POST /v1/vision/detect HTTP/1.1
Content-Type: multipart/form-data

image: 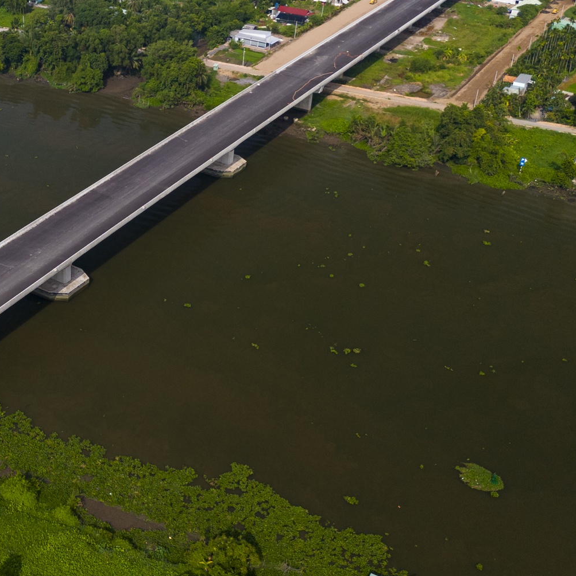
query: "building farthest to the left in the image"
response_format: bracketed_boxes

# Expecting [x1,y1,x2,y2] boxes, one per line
[236,23,278,47]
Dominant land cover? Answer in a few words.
water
